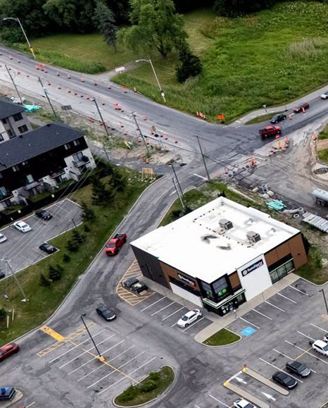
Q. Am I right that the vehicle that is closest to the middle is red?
Yes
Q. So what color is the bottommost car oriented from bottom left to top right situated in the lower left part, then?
red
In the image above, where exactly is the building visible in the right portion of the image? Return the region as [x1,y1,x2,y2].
[132,196,308,317]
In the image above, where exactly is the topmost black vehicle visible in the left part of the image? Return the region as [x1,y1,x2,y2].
[33,210,54,222]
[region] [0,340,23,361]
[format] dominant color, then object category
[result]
red car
